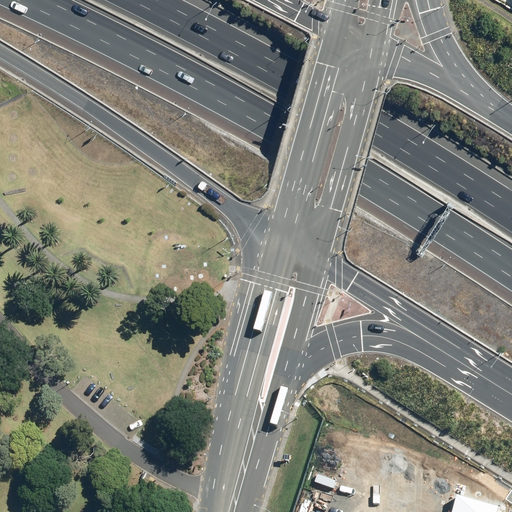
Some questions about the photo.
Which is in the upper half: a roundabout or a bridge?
bridge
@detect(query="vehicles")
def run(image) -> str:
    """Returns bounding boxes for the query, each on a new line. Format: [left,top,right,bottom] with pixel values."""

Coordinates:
[200,184,222,202]
[10,2,28,14]
[191,23,206,34]
[328,507,344,512]
[372,484,380,505]
[269,386,288,428]
[310,10,326,20]
[99,394,113,409]
[339,485,355,495]
[139,66,152,76]
[458,191,473,203]
[72,5,88,16]
[90,388,104,402]
[368,324,384,332]
[128,420,143,430]
[178,72,194,84]
[83,382,96,396]
[254,290,273,332]
[218,52,234,62]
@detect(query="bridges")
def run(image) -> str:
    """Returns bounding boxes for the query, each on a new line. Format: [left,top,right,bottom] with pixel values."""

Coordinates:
[265,35,394,252]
